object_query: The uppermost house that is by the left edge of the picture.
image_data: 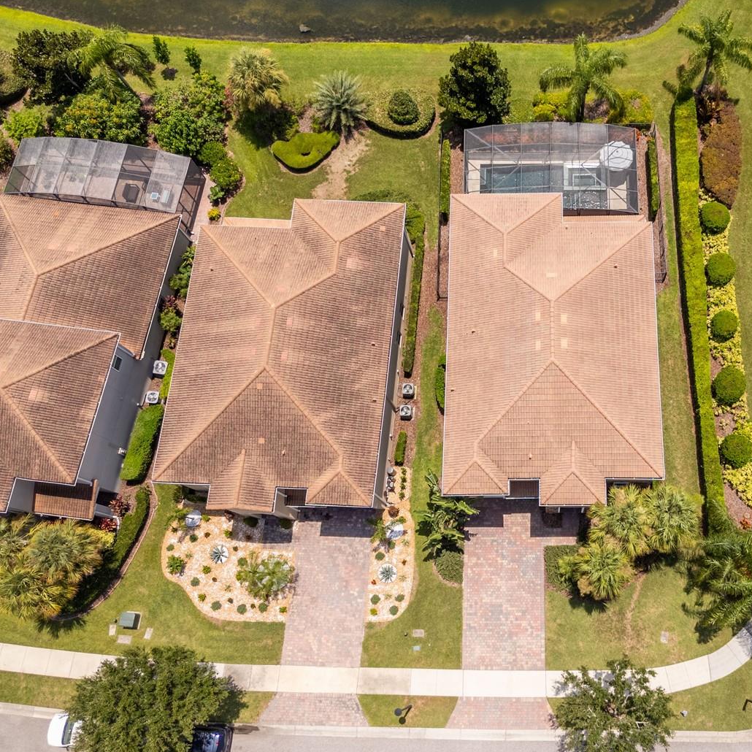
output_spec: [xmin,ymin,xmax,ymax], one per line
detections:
[0,194,192,524]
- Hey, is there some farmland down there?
No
